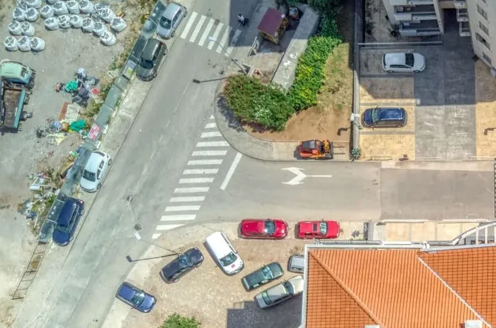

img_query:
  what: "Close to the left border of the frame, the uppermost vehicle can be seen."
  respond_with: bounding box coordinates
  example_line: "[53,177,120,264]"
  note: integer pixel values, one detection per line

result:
[0,67,36,131]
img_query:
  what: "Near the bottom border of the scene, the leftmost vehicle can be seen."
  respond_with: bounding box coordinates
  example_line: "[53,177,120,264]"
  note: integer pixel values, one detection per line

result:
[112,279,160,314]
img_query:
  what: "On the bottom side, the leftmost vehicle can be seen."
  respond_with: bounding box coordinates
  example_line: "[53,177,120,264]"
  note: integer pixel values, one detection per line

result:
[53,200,88,245]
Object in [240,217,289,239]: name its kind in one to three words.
car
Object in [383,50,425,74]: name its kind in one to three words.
car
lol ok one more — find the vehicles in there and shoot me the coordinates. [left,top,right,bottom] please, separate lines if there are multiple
[202,230,243,276]
[53,200,88,245]
[157,245,207,285]
[239,263,286,293]
[240,217,289,239]
[285,252,303,272]
[112,279,160,314]
[383,50,425,74]
[135,39,169,80]
[297,138,337,158]
[254,275,302,311]
[81,151,113,190]
[157,3,190,38]
[0,67,36,131]
[297,219,341,239]
[363,105,407,127]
